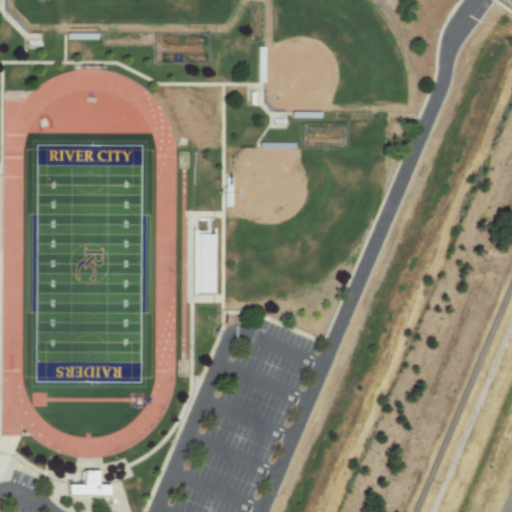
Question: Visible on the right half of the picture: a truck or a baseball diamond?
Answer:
baseball diamond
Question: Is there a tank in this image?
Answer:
No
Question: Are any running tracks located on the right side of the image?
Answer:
No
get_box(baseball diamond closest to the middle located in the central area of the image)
[228,148,384,292]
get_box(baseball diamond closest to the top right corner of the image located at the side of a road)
[266,0,407,111]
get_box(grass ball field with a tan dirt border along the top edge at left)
[16,0,241,25]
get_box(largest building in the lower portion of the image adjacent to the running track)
[70,470,113,496]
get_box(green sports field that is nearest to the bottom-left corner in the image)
[24,134,156,437]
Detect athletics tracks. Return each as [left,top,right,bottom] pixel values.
[4,70,176,458]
